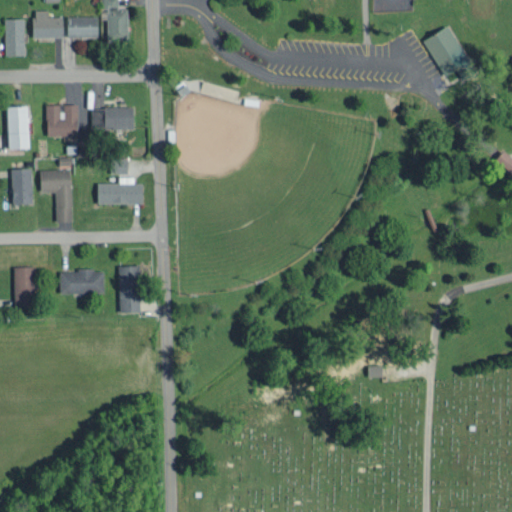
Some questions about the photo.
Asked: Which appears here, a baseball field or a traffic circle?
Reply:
baseball field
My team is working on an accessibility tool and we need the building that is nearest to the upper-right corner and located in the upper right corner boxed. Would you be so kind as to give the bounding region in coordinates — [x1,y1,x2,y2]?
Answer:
[424,28,470,81]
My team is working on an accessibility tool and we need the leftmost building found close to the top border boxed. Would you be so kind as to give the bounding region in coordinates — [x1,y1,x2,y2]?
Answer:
[5,18,26,57]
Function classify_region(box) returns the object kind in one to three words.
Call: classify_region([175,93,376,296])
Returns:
baseball field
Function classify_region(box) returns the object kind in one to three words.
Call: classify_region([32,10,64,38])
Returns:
house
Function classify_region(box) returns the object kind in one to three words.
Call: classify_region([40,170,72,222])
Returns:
house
